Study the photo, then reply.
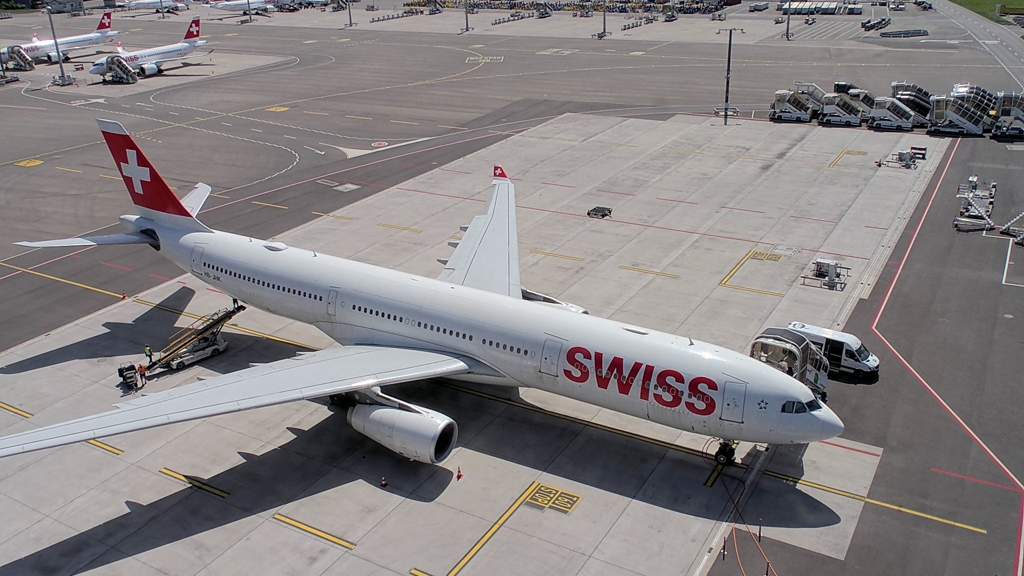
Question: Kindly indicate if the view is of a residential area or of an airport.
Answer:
airport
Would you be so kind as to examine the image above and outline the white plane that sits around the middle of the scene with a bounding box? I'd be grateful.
[0,118,844,466]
